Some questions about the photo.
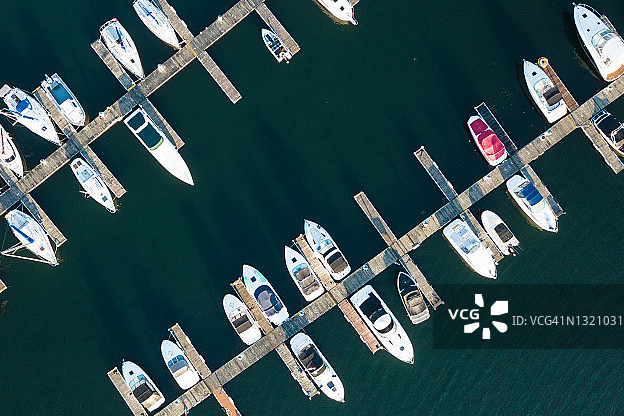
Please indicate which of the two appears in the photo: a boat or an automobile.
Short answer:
boat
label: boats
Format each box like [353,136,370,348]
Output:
[478,210,522,254]
[316,0,357,26]
[262,24,292,62]
[119,361,166,415]
[569,0,624,84]
[1,82,66,144]
[521,59,569,123]
[0,125,28,178]
[441,217,499,279]
[399,259,433,322]
[300,219,351,282]
[349,278,415,365]
[103,22,147,83]
[285,242,327,300]
[3,203,59,265]
[224,285,266,342]
[124,105,194,185]
[290,330,345,405]
[134,0,187,48]
[71,156,116,213]
[238,264,291,328]
[590,106,624,154]
[42,72,84,128]
[162,330,203,389]
[501,172,562,234]
[469,115,512,165]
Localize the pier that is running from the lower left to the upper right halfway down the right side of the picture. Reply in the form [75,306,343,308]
[352,76,624,288]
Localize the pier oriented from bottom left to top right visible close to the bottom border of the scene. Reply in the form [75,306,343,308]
[152,275,361,416]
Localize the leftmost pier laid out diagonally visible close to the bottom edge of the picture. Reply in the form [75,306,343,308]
[108,367,150,416]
